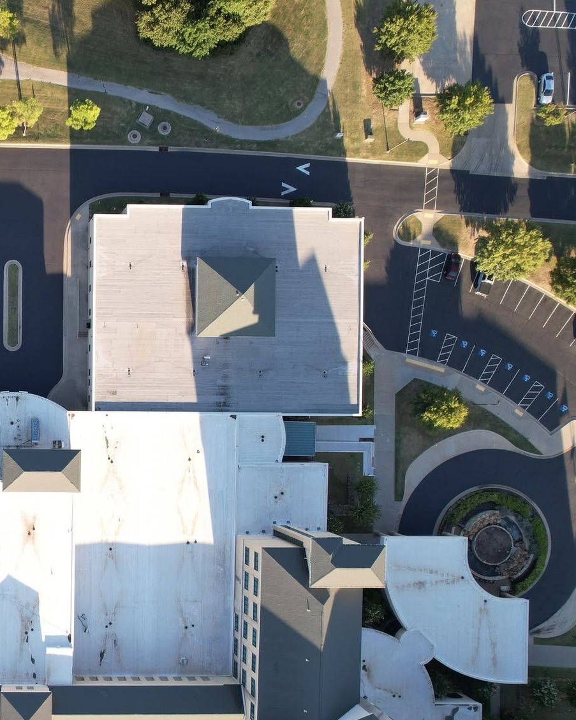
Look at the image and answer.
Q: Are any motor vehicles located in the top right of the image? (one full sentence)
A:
Yes, looking in the top right of the image, one can make out a motor vehicle.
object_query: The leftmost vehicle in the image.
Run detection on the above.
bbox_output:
[442,252,461,282]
